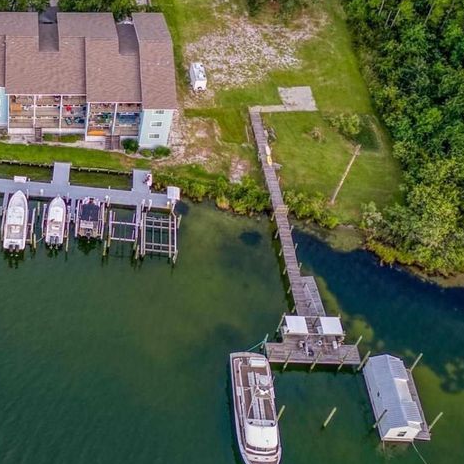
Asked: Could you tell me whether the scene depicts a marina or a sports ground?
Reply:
marina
